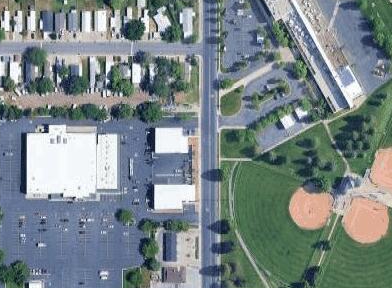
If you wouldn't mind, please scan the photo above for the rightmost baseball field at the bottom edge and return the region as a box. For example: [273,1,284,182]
[314,196,392,288]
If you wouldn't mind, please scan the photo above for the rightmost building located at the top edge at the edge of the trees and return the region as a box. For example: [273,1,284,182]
[266,0,366,115]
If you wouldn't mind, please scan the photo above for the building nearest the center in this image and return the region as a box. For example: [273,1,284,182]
[154,128,189,153]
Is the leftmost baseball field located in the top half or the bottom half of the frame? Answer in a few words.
bottom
